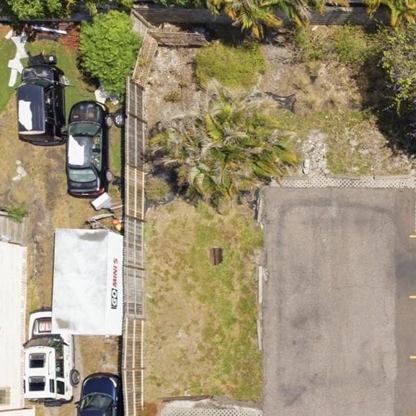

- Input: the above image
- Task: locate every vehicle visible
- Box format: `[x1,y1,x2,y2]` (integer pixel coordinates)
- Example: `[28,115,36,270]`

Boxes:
[54,101,109,198]
[17,308,78,410]
[9,53,64,148]
[71,369,125,416]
